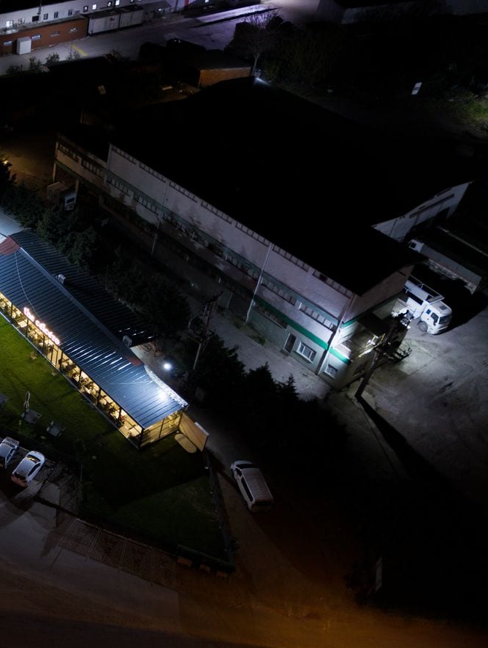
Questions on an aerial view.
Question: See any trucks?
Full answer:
Yes, the frame does contain a truck.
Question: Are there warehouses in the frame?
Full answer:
Yes, there is a warehouse in the image.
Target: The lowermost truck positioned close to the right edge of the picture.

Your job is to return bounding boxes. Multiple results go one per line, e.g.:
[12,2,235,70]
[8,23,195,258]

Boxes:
[409,281,465,333]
